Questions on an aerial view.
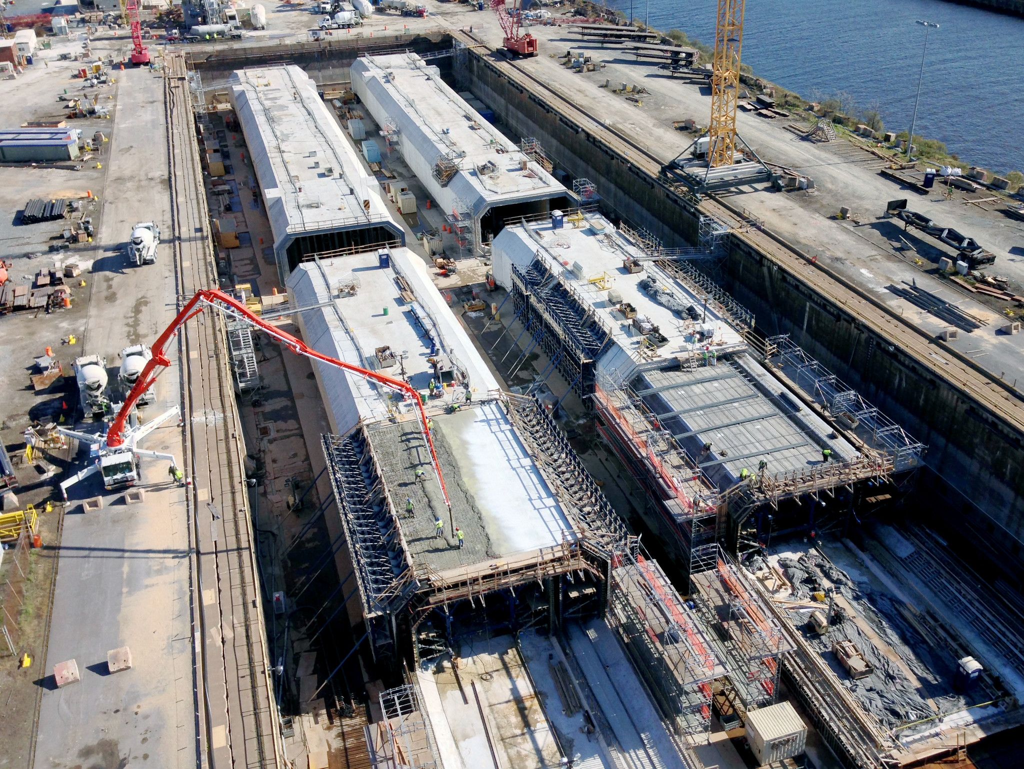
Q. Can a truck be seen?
Yes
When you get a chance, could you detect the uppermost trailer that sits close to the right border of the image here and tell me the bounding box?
[883,193,1003,268]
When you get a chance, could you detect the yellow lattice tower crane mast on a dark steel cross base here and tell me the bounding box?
[656,0,776,199]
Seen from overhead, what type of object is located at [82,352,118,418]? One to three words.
truck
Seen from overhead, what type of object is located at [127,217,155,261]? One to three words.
truck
